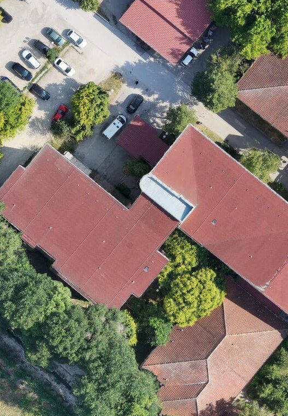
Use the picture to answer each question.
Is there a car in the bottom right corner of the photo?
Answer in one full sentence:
No, I can find no car in the bottom right corner of the photo.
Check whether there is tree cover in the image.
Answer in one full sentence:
Yes, tree cover shows up in the scene.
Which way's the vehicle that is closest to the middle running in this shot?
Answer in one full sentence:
The vehicle that is closest to the middle is oriented diagonally.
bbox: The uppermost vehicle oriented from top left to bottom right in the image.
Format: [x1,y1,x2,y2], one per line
[0,5,16,25]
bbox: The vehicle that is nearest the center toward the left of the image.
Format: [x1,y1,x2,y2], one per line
[100,115,126,140]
